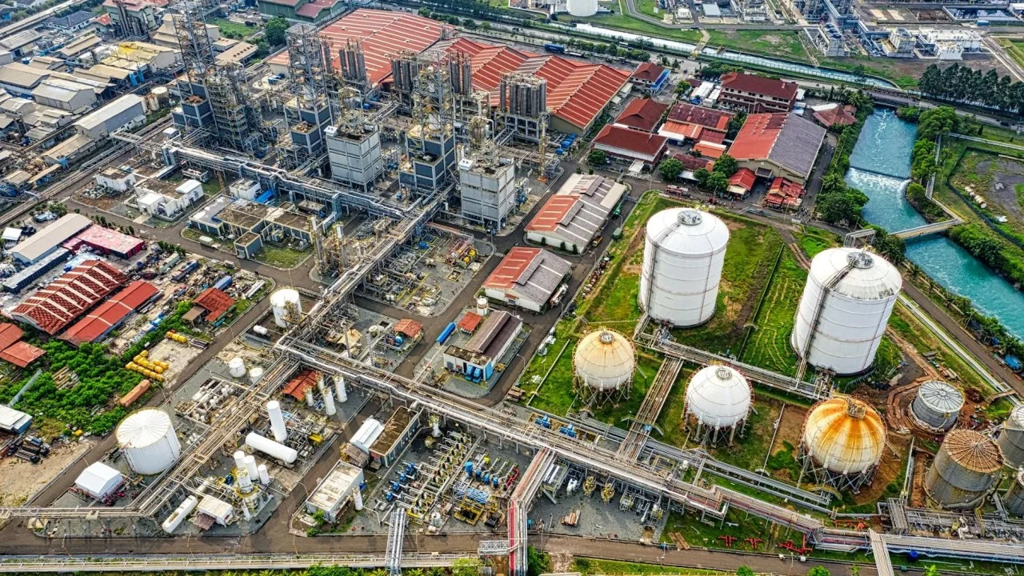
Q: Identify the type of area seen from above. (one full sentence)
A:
The picture captures an industrial area.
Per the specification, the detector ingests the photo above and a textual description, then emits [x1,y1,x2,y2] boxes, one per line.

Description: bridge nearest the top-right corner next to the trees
[855,86,935,108]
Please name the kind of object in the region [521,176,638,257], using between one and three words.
building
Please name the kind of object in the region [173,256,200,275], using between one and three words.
vehicle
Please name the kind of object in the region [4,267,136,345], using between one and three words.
shed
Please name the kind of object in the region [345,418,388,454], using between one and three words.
shed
